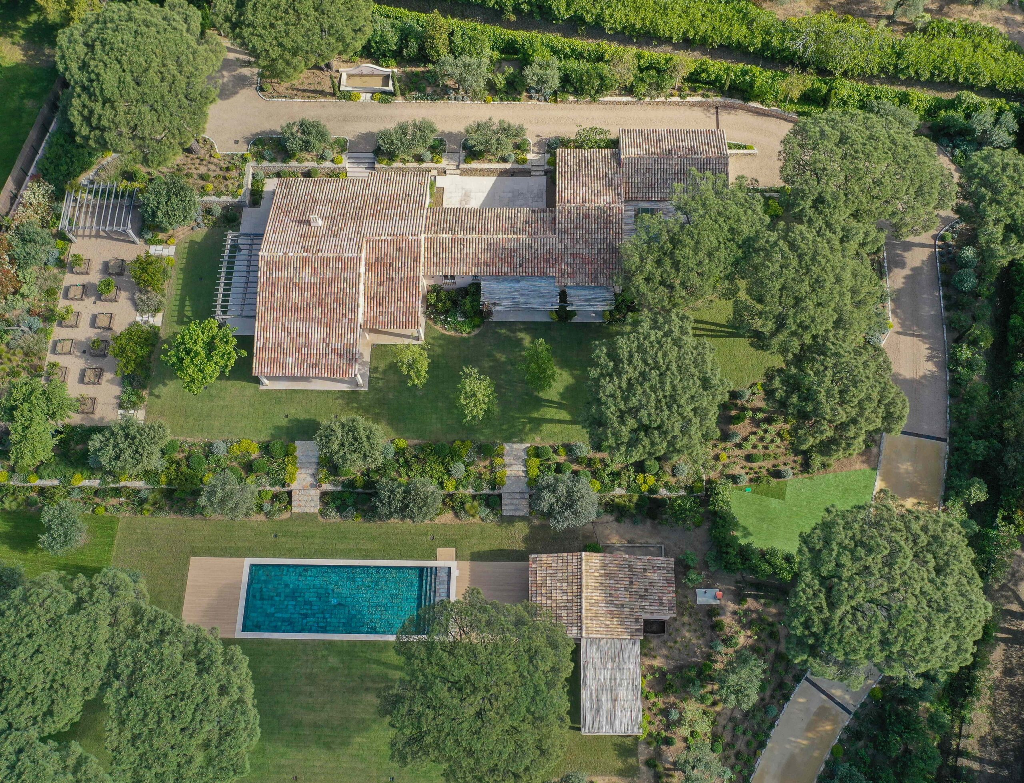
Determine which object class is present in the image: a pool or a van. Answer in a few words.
pool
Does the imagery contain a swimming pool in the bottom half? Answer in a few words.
Yes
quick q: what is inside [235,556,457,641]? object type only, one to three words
swimming pool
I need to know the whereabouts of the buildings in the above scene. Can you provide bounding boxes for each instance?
[252,126,731,390]
[527,551,679,640]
